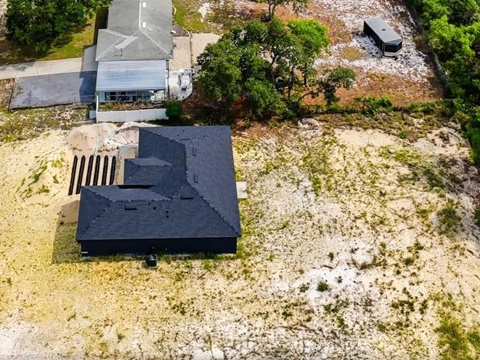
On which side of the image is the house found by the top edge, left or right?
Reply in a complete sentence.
The house found by the top edge is on the left side of the image.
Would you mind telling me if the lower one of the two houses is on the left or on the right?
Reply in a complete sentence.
The lower one of the two houses sits on the left side.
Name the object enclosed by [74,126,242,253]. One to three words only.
house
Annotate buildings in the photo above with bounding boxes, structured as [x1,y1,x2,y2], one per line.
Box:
[93,0,172,106]
[74,126,242,253]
